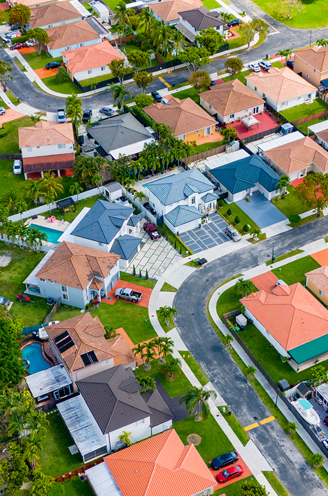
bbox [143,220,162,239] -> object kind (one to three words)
vehicle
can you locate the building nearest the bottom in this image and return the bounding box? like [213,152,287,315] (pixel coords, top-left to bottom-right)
[84,426,219,496]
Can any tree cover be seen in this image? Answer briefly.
Yes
